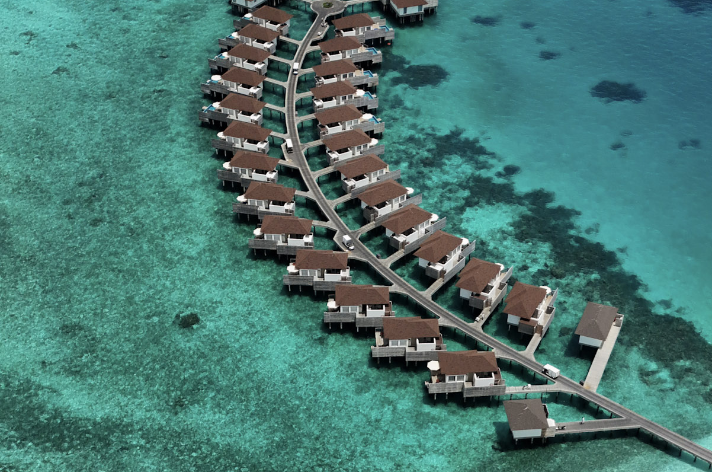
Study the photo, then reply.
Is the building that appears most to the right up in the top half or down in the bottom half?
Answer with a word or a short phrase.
bottom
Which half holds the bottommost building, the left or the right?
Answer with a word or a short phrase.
right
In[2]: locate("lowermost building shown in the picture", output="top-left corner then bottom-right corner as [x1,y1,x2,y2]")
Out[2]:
[502,398,557,457]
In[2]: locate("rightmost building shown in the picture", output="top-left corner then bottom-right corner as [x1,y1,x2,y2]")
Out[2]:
[572,301,622,366]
